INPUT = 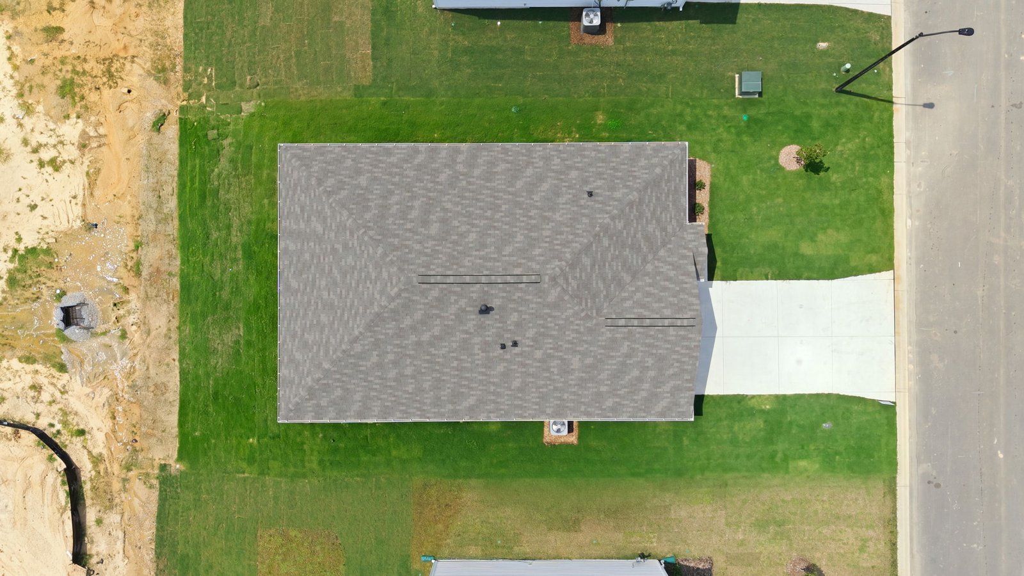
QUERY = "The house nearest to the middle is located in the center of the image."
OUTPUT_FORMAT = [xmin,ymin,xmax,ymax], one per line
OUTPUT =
[276,140,707,424]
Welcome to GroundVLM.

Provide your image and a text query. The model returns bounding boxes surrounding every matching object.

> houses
[431,0,686,13]
[428,556,670,576]
[276,140,707,424]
